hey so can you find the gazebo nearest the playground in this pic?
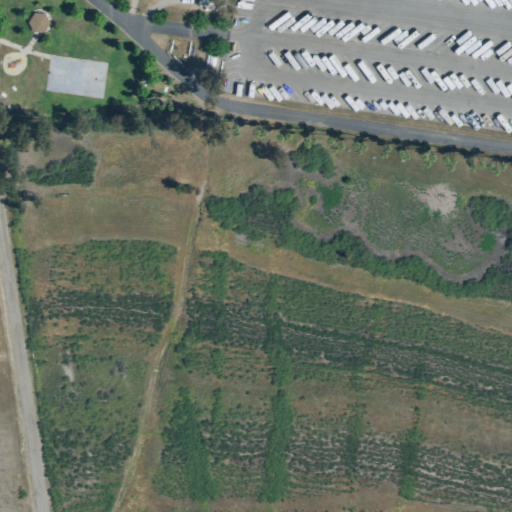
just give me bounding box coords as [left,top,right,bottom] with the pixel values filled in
[29,10,53,33]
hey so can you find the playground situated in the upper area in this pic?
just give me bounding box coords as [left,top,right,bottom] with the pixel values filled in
[2,52,28,76]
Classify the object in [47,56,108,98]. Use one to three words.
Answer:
basketball court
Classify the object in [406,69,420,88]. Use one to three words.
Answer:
camper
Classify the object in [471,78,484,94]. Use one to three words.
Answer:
vehicle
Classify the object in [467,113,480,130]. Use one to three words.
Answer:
vehicle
